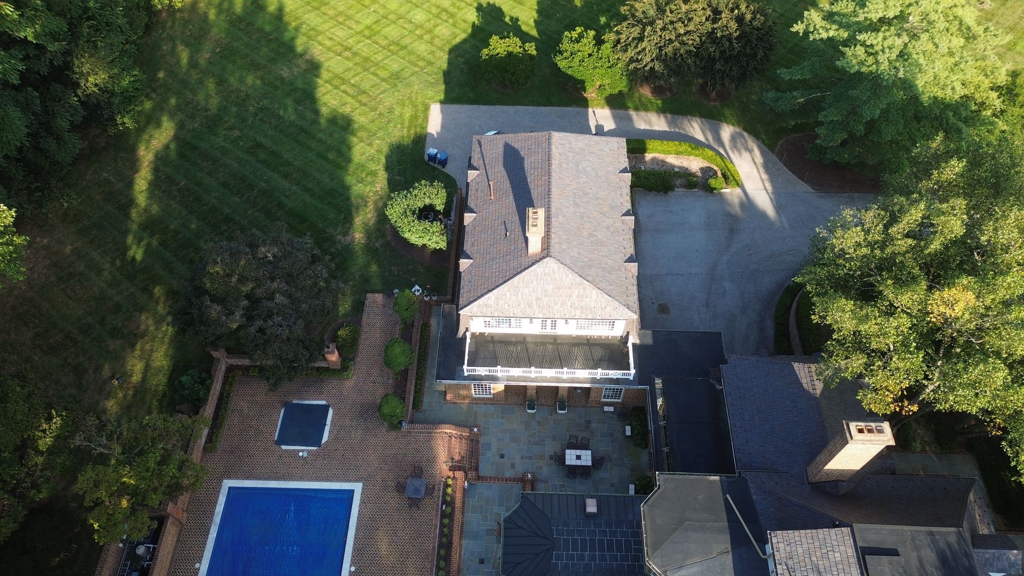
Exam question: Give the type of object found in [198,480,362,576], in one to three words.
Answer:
swimming pool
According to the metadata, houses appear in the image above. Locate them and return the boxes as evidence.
[436,130,649,405]
[641,323,1024,576]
